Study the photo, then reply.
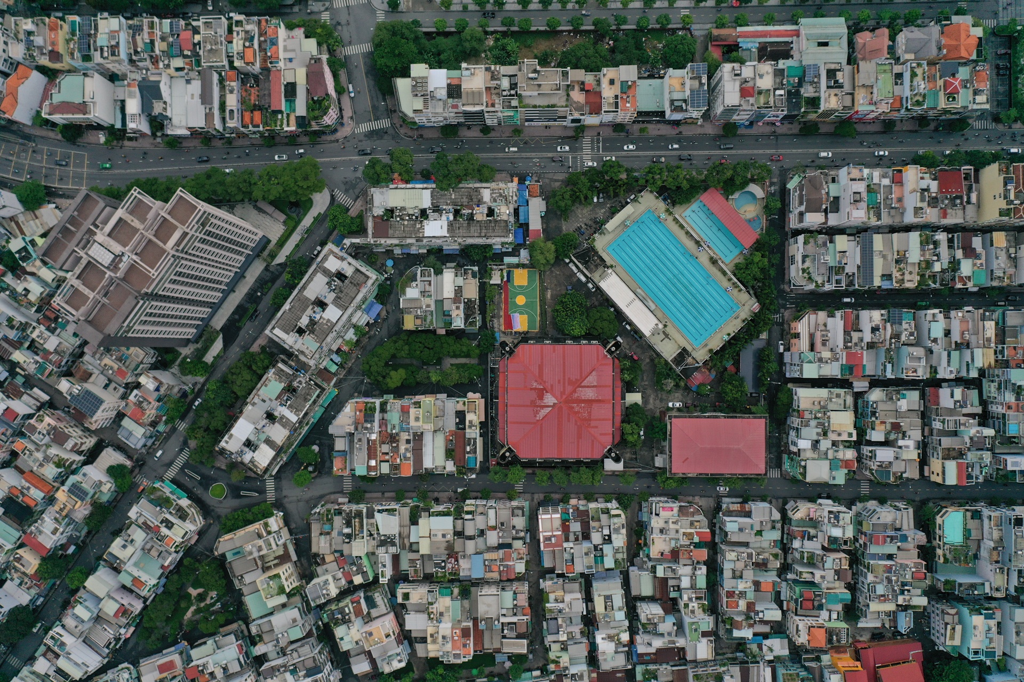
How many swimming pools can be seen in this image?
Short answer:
3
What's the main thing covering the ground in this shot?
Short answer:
buildings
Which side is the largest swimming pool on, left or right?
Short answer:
right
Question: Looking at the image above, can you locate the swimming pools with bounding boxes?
[676,190,760,289]
[586,187,754,372]
[717,184,766,233]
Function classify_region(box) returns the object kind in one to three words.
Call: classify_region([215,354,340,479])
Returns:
building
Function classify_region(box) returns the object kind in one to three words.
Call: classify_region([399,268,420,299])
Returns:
house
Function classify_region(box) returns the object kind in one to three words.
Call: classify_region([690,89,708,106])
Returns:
solar panel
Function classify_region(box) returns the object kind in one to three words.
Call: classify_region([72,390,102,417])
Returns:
solar panel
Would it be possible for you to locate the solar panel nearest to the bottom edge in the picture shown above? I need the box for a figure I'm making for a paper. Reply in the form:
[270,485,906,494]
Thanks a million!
[70,482,92,501]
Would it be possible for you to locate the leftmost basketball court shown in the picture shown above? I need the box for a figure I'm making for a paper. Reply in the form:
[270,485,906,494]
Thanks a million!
[504,268,539,331]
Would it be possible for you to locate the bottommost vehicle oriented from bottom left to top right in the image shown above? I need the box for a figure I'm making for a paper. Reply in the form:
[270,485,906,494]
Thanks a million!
[30,621,43,636]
